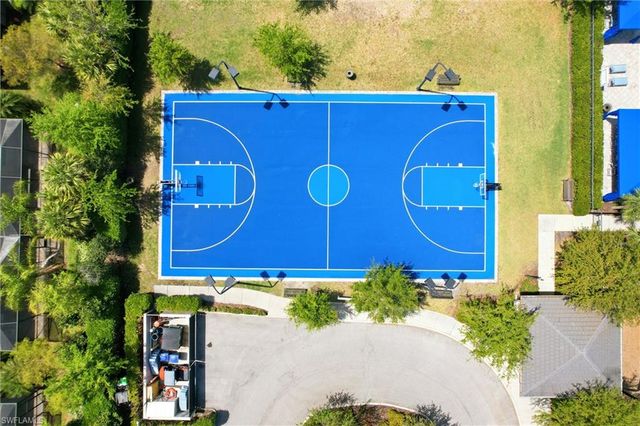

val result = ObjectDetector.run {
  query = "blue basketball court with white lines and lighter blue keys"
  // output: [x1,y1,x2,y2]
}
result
[158,90,498,283]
